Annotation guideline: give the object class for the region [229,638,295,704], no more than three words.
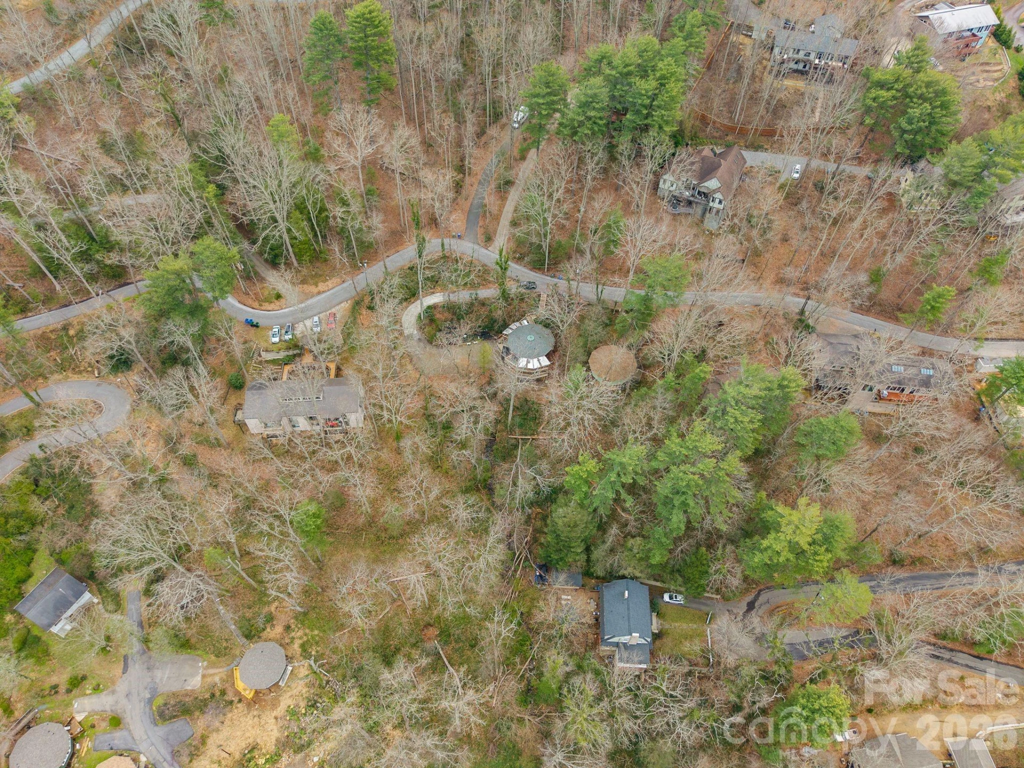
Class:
house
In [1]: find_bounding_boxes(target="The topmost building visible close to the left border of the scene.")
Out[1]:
[17,566,98,641]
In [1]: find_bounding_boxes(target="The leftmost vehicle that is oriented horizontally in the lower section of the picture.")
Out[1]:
[662,591,686,604]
